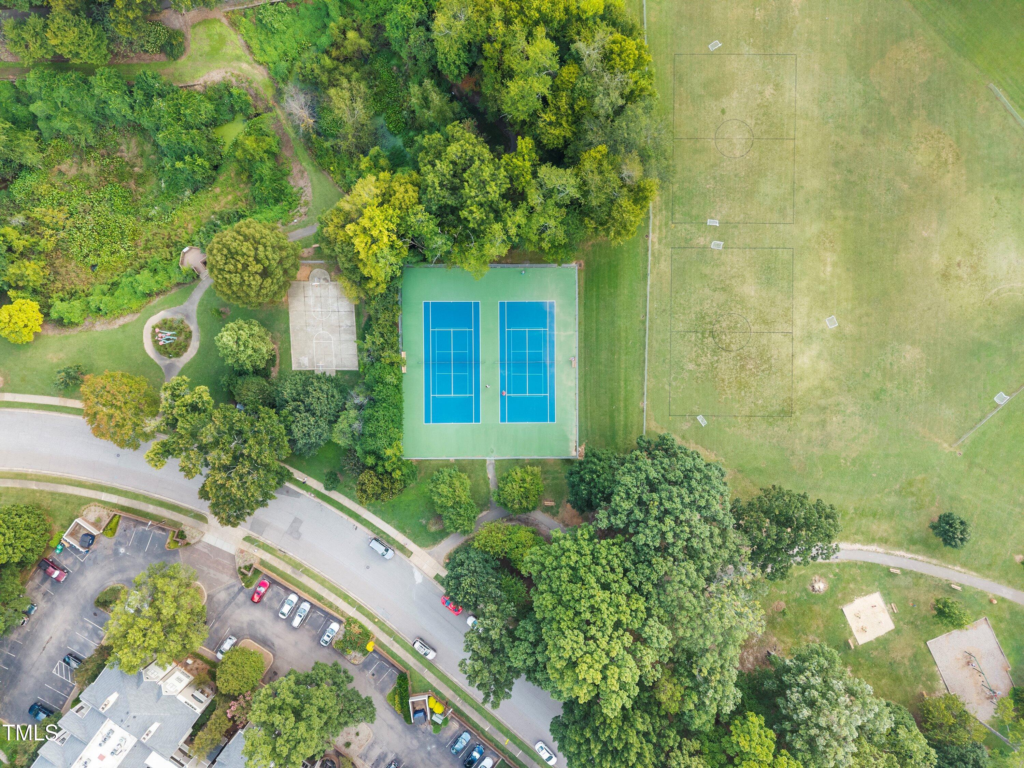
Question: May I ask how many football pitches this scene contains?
two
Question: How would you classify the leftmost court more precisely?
basketball court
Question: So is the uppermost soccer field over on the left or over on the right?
right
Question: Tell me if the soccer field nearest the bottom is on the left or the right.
right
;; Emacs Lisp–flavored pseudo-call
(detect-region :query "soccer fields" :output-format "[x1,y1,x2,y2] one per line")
[669,247,794,417]
[672,54,797,224]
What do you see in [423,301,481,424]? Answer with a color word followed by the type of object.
blue tennis court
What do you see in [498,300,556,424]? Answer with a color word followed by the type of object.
blue tennis court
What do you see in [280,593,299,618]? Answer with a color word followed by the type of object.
white car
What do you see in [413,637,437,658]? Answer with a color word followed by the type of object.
white car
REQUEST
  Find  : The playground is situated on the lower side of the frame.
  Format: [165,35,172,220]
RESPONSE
[927,617,1016,722]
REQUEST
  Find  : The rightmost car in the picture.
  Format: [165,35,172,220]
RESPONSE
[535,740,555,764]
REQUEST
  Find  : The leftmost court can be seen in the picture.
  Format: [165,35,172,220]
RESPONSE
[288,268,358,379]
